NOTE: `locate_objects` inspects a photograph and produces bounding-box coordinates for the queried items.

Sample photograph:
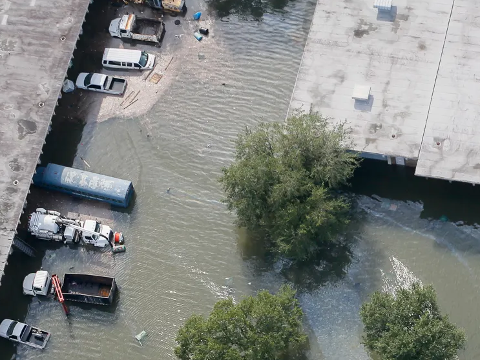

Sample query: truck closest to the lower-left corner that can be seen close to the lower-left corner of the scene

[0,319,54,351]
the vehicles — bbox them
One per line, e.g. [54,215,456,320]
[20,269,119,312]
[0,319,54,351]
[27,206,115,254]
[74,70,132,97]
[115,0,187,21]
[101,48,158,72]
[106,14,166,45]
[33,166,137,210]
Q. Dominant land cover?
water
